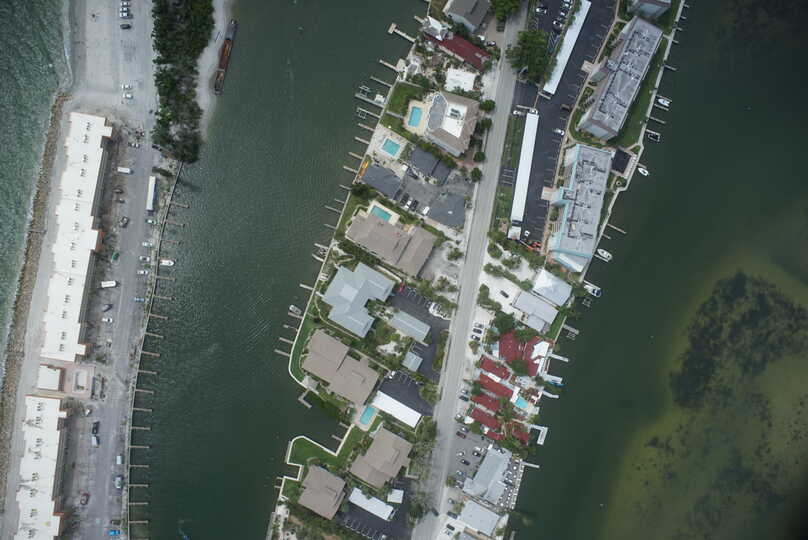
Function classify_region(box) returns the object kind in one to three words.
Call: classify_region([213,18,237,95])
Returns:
ship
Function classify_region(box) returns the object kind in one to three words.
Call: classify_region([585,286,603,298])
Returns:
boat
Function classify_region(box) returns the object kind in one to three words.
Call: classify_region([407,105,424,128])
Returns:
swimming pool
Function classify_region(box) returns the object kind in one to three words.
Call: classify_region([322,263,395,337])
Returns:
house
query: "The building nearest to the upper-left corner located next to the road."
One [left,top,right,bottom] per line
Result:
[40,112,121,361]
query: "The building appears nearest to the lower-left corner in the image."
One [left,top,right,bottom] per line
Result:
[13,394,77,540]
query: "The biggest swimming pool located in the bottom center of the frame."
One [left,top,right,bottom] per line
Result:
[359,406,376,426]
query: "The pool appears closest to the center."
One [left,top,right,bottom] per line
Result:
[369,204,392,223]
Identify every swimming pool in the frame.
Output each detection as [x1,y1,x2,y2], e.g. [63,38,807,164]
[407,105,424,128]
[380,137,402,157]
[513,396,529,410]
[369,204,392,223]
[359,406,376,426]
